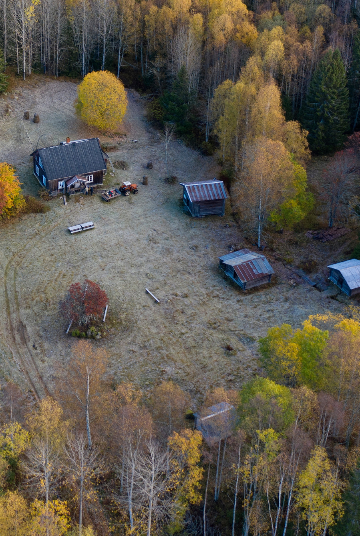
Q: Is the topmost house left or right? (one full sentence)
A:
The topmost house sits on the left side.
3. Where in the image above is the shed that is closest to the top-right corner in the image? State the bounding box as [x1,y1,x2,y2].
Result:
[184,179,227,216]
